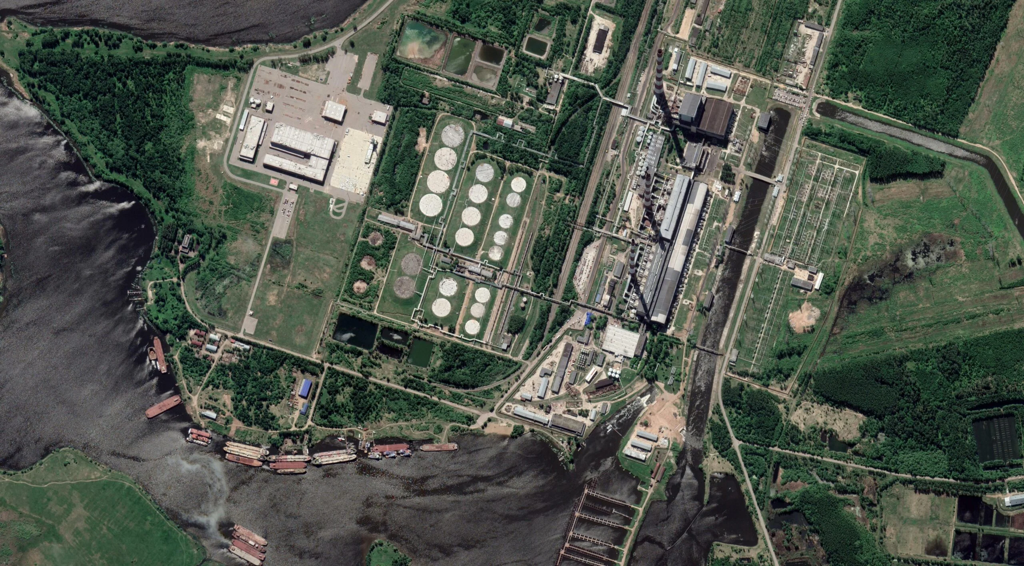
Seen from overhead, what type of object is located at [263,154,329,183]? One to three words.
building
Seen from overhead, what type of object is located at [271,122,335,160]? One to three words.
building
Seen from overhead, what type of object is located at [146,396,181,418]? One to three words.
ship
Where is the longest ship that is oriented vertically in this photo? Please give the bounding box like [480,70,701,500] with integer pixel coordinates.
[154,337,167,373]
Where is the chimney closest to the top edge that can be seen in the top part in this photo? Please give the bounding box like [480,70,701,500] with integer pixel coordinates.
[653,49,665,101]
